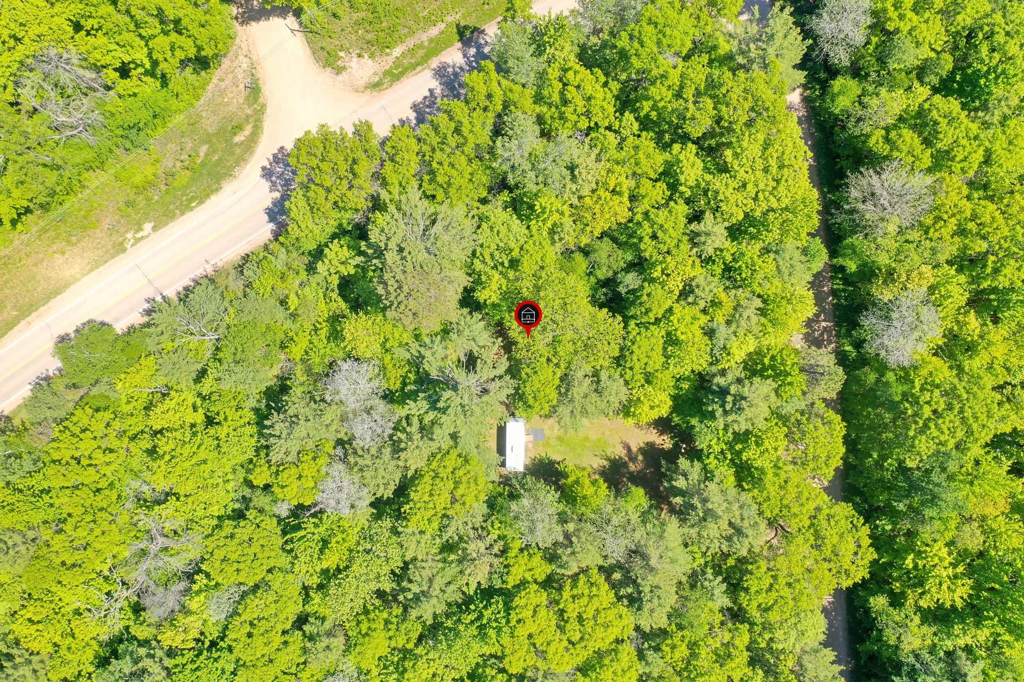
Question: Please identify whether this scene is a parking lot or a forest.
forest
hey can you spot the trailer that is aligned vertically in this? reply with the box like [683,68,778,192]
[506,410,525,471]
